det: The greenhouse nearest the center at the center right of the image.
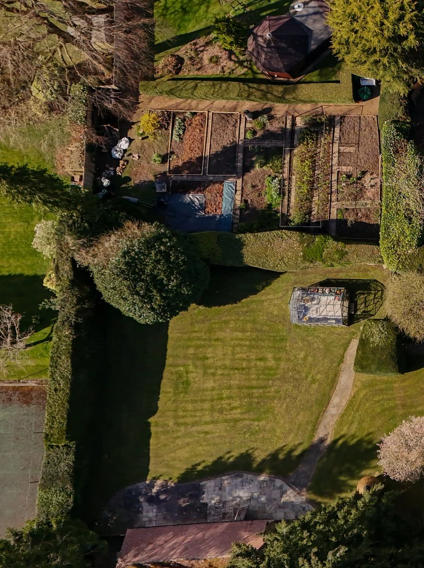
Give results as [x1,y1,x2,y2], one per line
[289,288,357,327]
